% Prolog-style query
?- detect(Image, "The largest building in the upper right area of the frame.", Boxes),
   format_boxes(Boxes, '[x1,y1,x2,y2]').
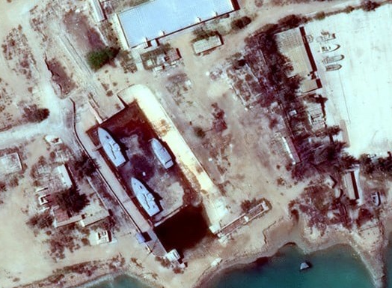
[274,27,317,78]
